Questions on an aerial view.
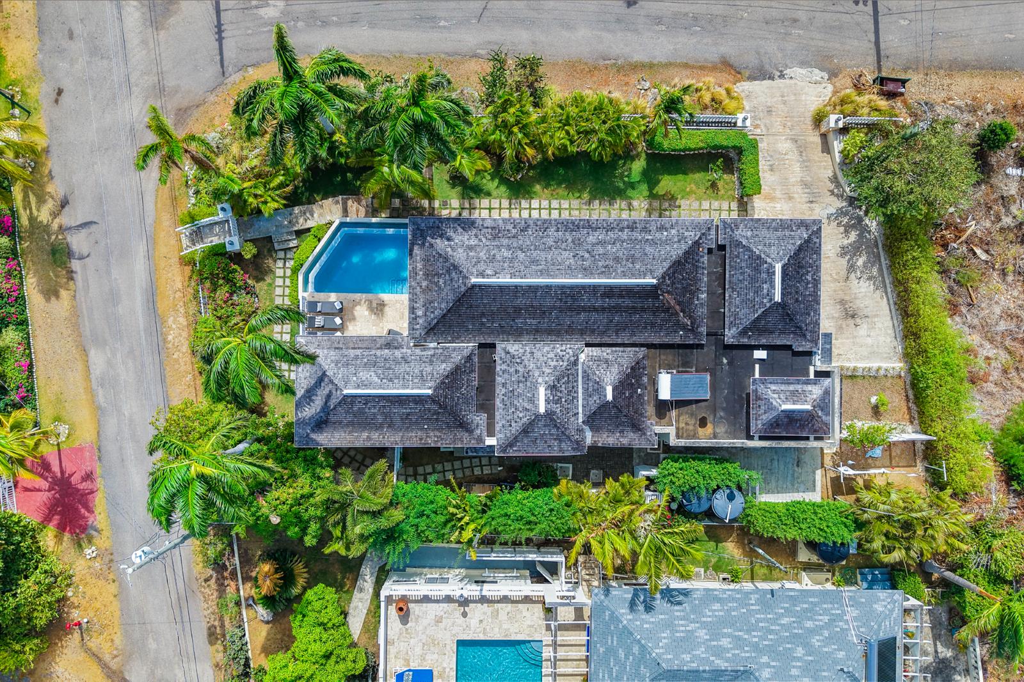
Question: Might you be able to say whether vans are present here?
No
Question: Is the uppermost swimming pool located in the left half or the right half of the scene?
left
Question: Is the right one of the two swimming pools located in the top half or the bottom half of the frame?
bottom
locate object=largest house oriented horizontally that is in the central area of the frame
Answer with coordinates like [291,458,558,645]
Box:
[294,217,840,456]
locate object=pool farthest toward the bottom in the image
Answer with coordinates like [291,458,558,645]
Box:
[454,637,542,682]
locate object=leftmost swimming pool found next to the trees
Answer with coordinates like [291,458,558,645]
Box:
[298,218,408,335]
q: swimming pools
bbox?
[454,637,542,682]
[298,218,408,335]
